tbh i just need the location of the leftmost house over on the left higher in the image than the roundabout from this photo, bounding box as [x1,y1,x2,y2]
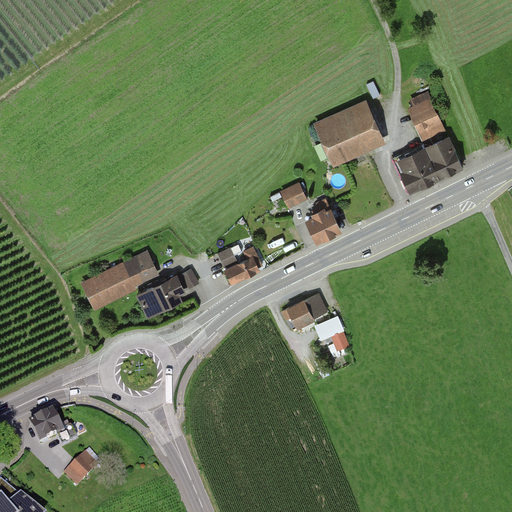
[82,250,160,308]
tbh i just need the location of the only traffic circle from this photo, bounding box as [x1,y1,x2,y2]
[58,314,220,445]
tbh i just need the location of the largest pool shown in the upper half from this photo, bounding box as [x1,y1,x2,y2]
[330,174,346,189]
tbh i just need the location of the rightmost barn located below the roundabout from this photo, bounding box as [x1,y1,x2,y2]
[64,447,98,484]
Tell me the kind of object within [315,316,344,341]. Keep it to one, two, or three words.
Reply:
building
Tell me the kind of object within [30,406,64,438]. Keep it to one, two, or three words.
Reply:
house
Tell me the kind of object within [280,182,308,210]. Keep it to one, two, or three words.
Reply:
shed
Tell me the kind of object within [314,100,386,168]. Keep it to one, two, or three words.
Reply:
barn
